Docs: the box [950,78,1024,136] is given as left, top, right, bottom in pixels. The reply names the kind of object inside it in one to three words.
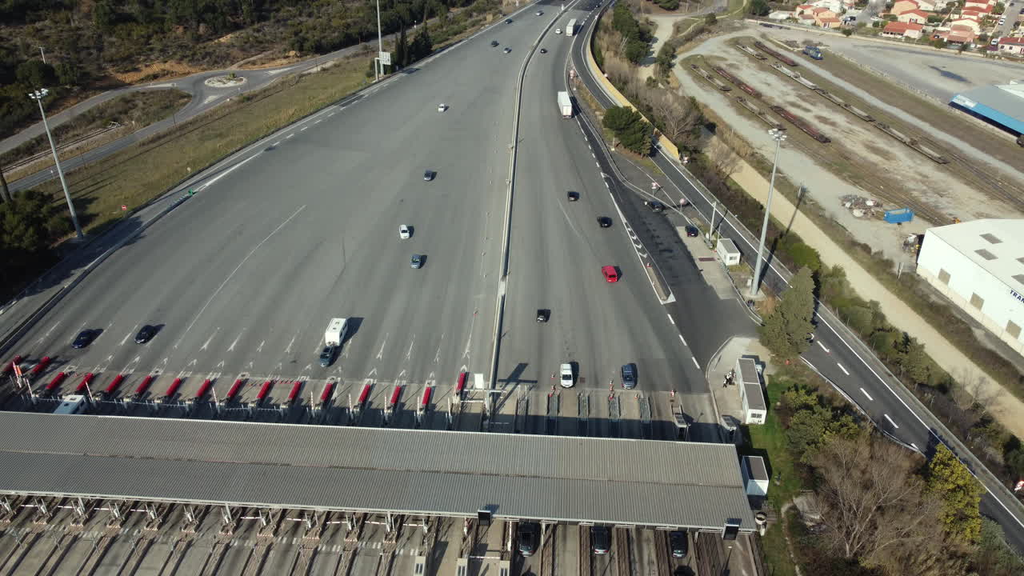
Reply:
building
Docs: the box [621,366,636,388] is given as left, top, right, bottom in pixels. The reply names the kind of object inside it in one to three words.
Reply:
car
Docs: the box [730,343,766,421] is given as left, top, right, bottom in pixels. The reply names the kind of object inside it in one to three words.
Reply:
building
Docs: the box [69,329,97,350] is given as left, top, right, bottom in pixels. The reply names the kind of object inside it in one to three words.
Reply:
car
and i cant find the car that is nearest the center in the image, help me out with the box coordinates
[537,309,550,325]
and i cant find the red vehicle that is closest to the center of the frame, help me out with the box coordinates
[604,267,616,282]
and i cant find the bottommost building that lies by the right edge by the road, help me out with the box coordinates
[917,214,1024,357]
